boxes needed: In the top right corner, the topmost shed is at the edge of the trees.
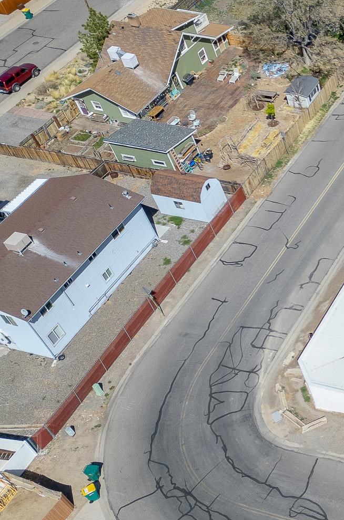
[281,75,324,108]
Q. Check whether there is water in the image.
No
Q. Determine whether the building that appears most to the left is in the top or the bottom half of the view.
bottom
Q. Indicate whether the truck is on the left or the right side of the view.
left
